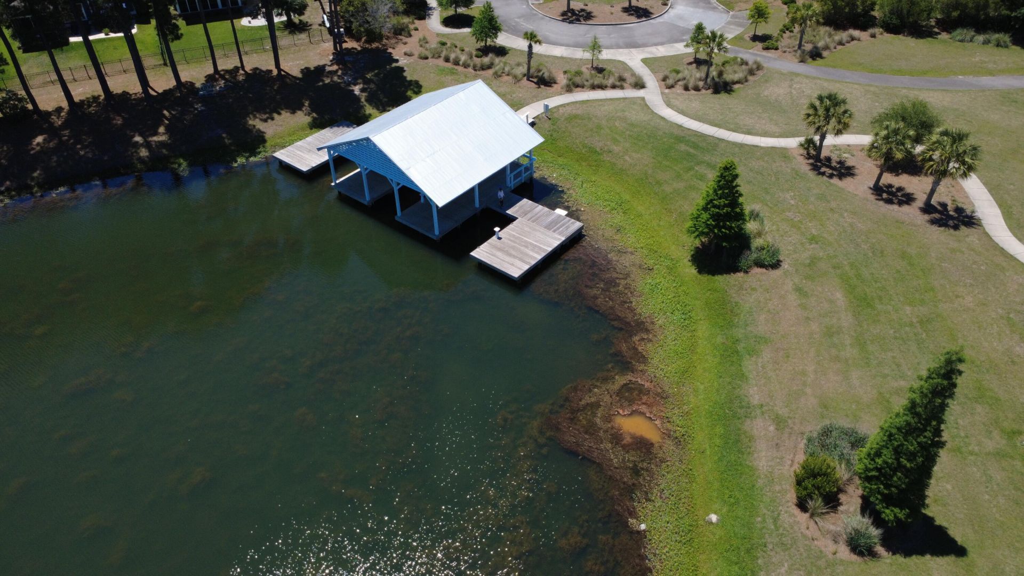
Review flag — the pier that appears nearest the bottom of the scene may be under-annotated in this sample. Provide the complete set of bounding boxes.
[470,198,584,289]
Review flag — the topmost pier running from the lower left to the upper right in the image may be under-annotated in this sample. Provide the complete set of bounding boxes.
[273,121,372,177]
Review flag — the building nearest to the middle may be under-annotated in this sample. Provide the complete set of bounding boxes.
[317,79,544,245]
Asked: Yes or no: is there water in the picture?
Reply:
Yes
